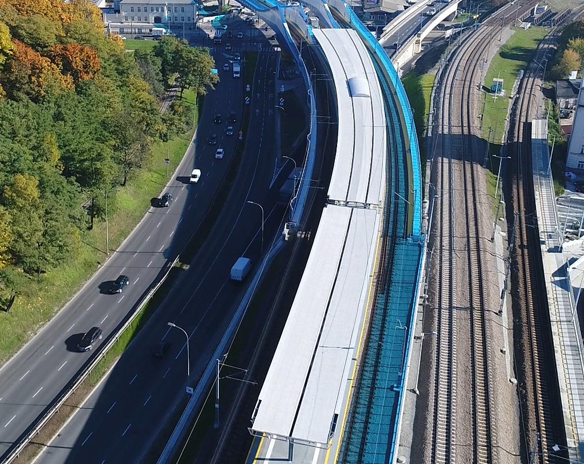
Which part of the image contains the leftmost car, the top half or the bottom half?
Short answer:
bottom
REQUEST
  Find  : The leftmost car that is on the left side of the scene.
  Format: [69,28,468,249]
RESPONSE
[76,324,102,349]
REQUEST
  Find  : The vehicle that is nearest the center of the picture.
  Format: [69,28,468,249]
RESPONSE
[228,259,248,282]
